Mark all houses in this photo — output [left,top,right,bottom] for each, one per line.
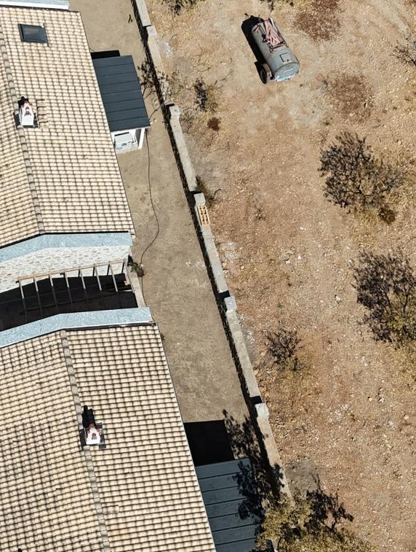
[0,0,136,296]
[0,310,219,552]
